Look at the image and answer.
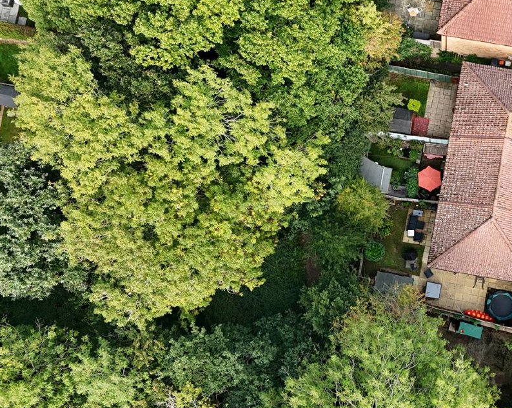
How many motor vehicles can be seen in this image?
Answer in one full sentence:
The picture shows no motor vehicles.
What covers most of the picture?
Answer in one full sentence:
Most of the picture is covered by trees.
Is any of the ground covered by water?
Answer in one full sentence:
No, the scene doesn't show any water.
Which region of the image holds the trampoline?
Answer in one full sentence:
The trampoline sits in the bottom right section of the image.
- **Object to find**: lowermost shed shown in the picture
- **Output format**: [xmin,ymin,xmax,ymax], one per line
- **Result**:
[371,269,413,295]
